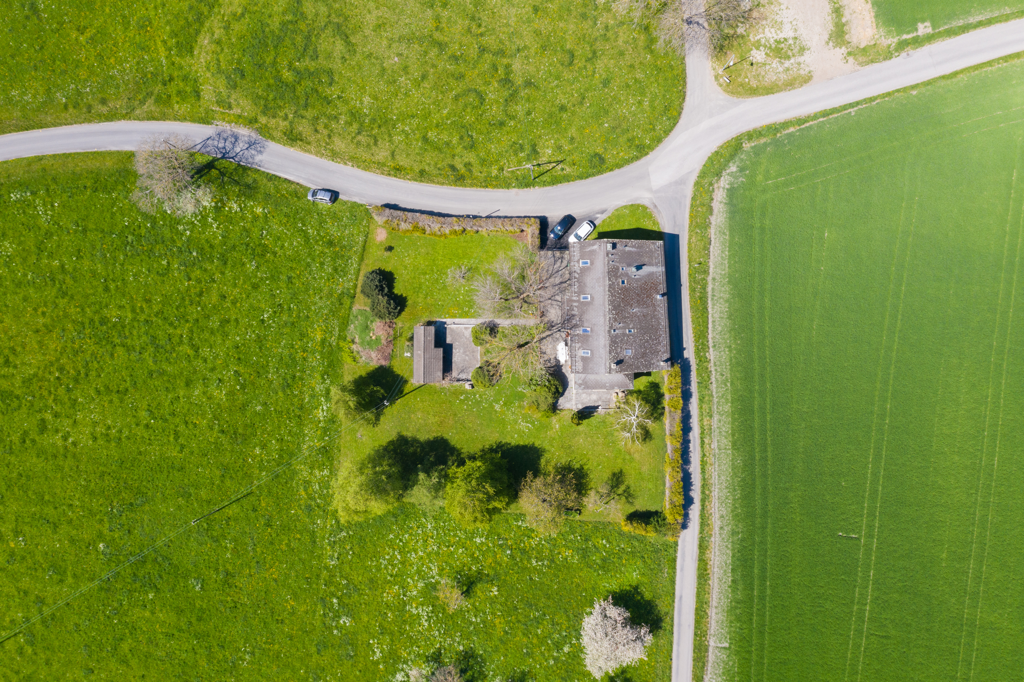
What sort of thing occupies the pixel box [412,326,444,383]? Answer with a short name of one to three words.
building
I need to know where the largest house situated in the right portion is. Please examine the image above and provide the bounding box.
[560,239,671,391]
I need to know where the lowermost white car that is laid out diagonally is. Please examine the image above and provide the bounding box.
[569,218,593,242]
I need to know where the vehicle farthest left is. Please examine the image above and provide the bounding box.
[307,189,335,205]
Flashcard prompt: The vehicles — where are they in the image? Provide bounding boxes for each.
[550,214,574,241]
[307,189,335,205]
[569,218,593,242]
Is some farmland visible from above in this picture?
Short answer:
Yes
